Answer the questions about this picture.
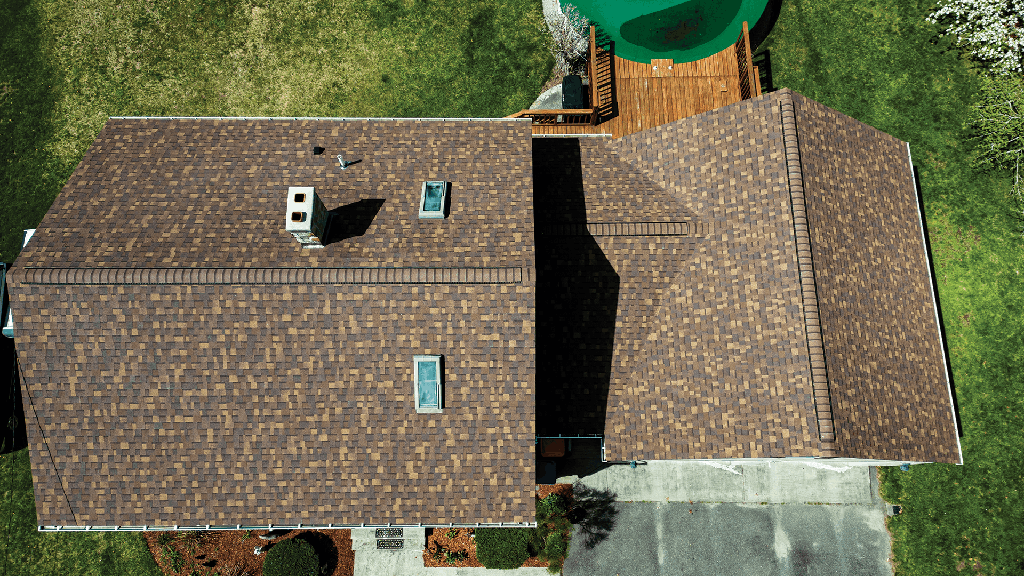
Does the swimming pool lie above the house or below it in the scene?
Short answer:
above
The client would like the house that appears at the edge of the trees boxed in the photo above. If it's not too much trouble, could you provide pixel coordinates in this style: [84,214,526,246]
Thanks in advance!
[8,88,964,549]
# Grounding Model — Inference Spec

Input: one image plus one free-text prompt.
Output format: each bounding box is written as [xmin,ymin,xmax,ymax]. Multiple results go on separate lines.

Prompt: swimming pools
[556,0,768,80]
